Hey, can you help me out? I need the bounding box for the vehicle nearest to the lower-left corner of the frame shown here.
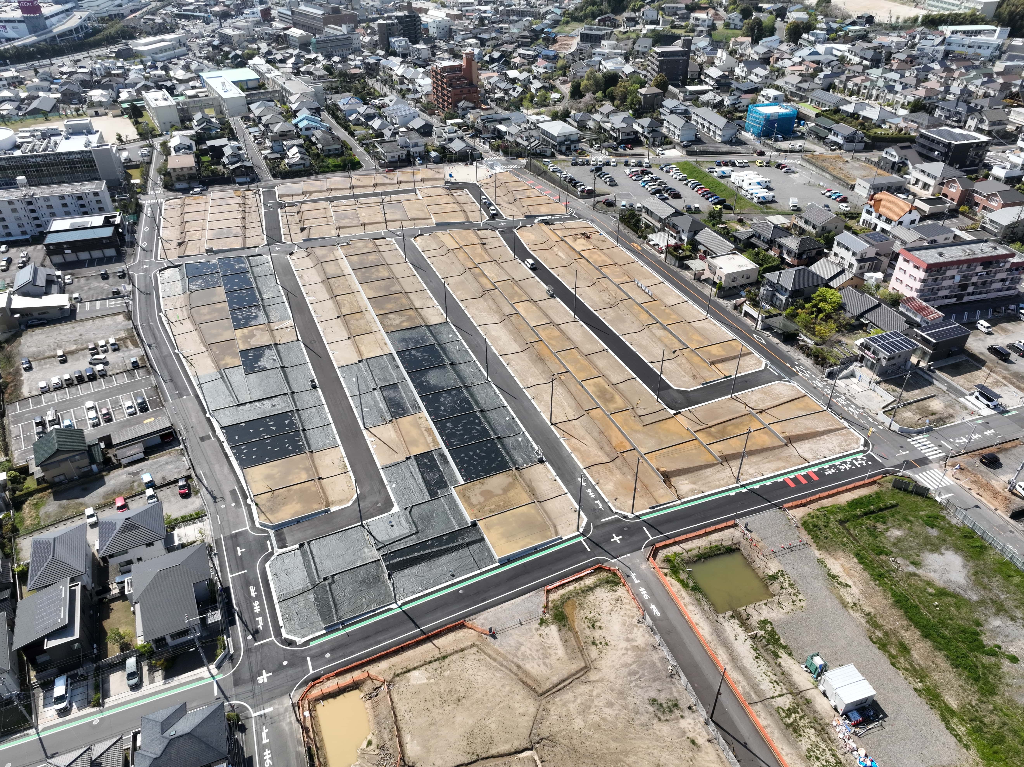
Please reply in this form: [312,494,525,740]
[52,676,70,712]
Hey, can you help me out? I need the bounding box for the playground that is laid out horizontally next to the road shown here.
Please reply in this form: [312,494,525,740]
[445,162,504,184]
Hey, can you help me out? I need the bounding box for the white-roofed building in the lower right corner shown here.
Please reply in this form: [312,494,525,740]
[820,664,876,713]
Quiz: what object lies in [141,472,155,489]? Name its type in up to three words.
car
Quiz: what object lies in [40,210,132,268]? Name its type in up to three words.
building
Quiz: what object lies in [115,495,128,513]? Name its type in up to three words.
vehicle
